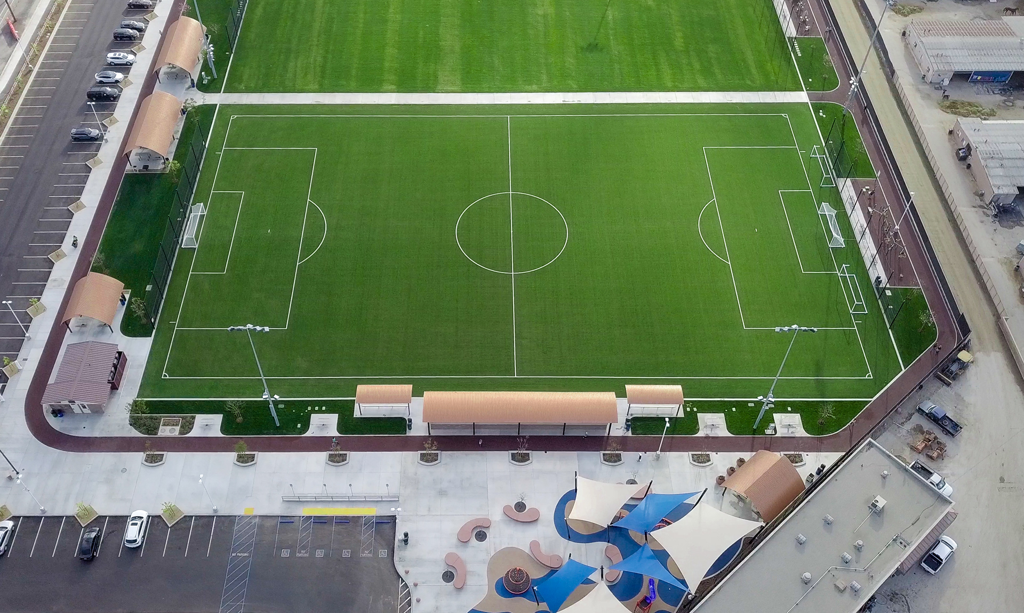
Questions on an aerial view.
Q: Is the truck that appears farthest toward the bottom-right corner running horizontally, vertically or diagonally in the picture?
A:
diagonally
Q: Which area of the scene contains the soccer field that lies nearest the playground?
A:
center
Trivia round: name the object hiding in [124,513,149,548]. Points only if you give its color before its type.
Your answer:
white car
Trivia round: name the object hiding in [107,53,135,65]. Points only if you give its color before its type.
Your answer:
white vehicle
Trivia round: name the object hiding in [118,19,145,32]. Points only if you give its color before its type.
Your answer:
gray vehicle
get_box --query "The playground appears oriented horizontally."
[468,489,743,613]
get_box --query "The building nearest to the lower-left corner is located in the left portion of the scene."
[40,339,120,413]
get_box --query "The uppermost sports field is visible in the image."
[220,0,807,93]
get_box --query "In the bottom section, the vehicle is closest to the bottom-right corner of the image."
[918,537,957,577]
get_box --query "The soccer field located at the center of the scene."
[136,91,906,401]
